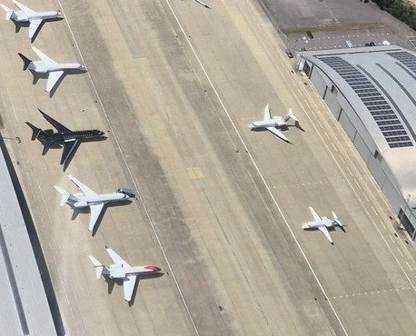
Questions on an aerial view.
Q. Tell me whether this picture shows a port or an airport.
airport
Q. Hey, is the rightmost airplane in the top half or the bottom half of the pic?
bottom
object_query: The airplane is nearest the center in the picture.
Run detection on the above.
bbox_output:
[248,106,305,142]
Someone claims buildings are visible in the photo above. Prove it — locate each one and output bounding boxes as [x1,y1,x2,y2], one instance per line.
[0,144,56,336]
[296,43,416,228]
